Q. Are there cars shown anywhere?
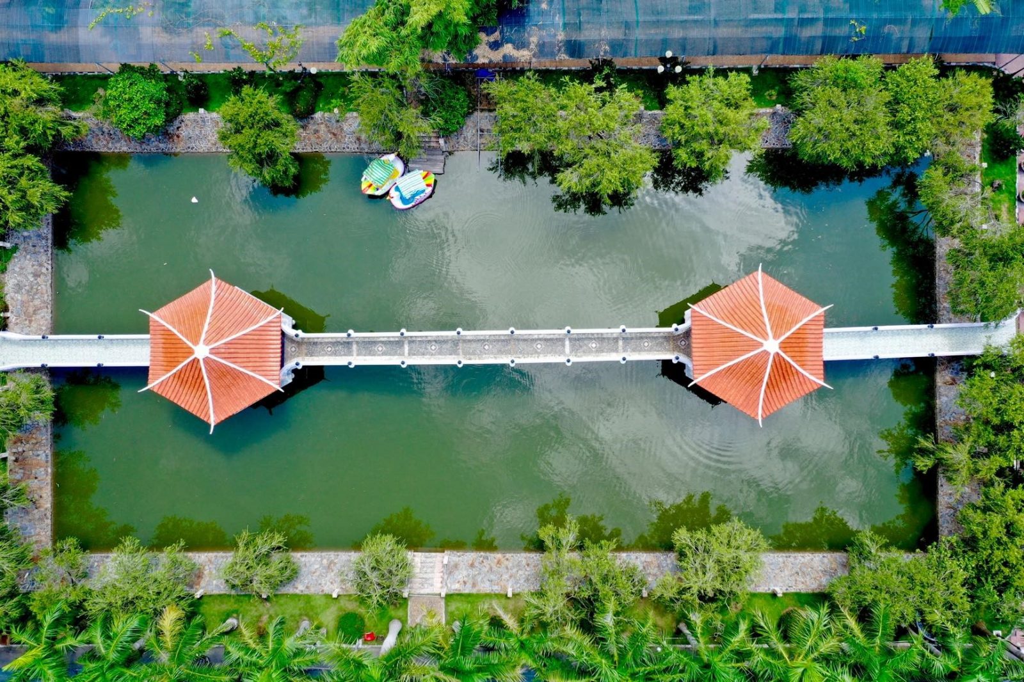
No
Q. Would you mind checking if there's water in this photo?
Yes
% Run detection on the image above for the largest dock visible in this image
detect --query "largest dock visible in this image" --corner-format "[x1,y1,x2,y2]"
[408,150,439,176]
